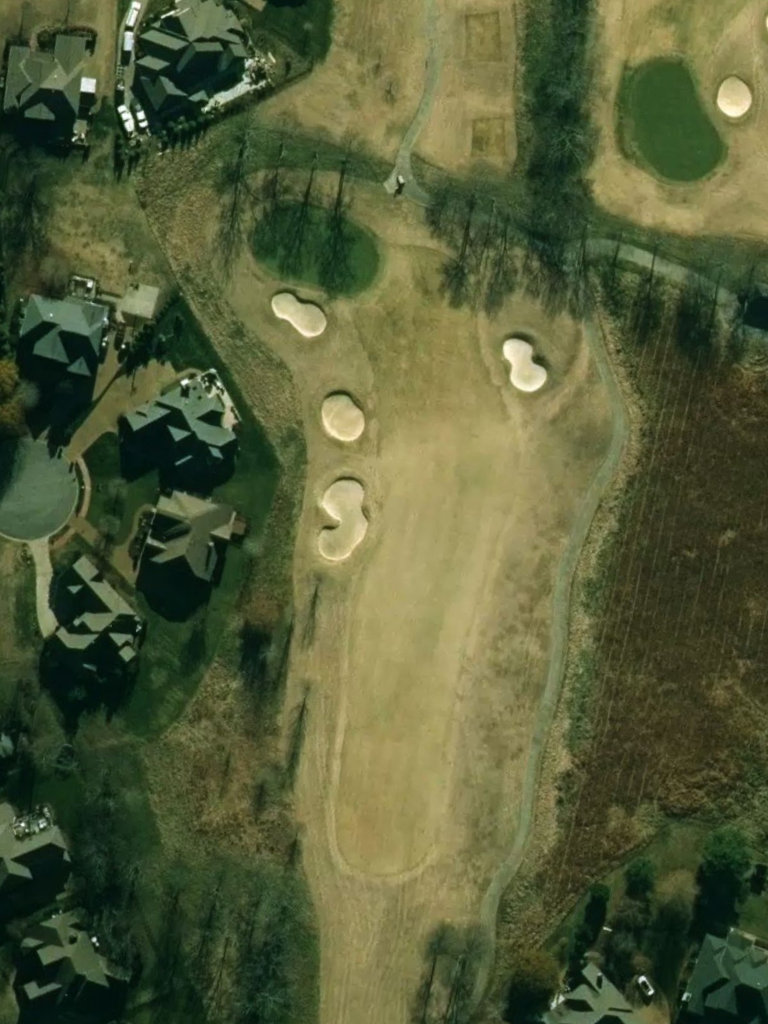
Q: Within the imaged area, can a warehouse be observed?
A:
No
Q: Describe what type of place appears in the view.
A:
golf course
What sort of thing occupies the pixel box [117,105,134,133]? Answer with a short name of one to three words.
vehicle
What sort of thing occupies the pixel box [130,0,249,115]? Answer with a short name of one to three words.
house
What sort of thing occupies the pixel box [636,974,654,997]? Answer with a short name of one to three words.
car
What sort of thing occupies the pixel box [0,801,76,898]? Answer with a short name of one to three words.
house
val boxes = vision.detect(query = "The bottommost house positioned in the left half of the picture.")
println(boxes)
[20,904,130,1007]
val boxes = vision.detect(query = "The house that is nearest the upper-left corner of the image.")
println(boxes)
[0,35,87,122]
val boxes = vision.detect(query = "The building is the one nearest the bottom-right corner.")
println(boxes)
[677,927,768,1020]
